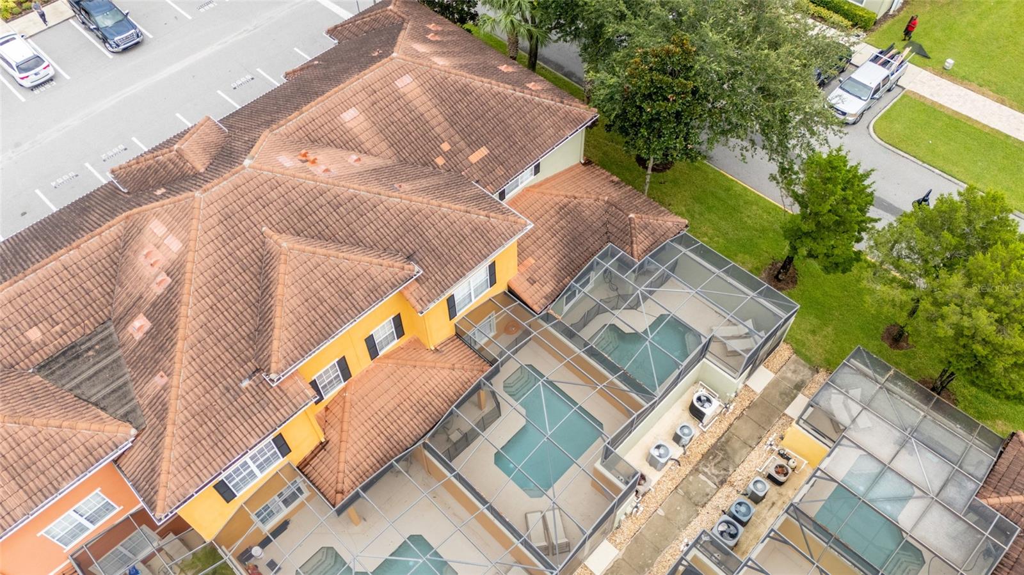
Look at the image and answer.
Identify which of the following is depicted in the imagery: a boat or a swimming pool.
swimming pool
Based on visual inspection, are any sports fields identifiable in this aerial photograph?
No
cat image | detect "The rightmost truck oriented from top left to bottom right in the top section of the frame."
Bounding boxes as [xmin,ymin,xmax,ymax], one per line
[72,0,144,50]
